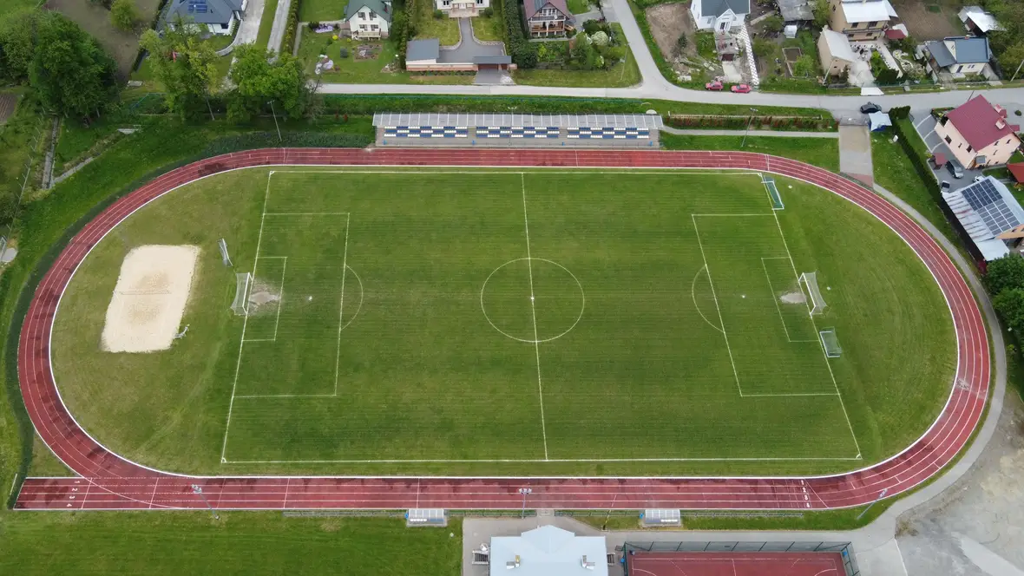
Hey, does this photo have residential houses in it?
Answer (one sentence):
Yes, there's a residential house here.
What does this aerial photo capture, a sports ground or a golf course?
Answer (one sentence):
The area seen from above is a sports ground.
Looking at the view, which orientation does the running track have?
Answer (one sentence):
In this picture, the running track is oriented from left to right.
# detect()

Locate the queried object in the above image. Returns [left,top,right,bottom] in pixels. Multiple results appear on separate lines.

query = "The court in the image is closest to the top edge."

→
[101,245,200,352]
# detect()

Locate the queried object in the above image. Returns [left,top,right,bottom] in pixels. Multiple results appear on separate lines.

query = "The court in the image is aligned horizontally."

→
[628,552,847,576]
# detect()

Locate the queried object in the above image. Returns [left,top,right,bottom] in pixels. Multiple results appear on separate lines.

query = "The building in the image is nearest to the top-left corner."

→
[166,0,236,36]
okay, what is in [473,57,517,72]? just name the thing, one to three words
building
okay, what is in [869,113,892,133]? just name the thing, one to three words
tent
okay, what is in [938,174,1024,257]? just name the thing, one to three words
house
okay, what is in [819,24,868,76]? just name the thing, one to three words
barn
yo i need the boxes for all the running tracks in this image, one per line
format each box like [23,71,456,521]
[14,147,990,511]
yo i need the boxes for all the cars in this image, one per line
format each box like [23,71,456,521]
[705,81,725,91]
[860,104,884,114]
[730,84,753,93]
[947,158,966,177]
[970,172,984,181]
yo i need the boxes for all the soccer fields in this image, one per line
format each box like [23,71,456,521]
[214,171,863,469]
